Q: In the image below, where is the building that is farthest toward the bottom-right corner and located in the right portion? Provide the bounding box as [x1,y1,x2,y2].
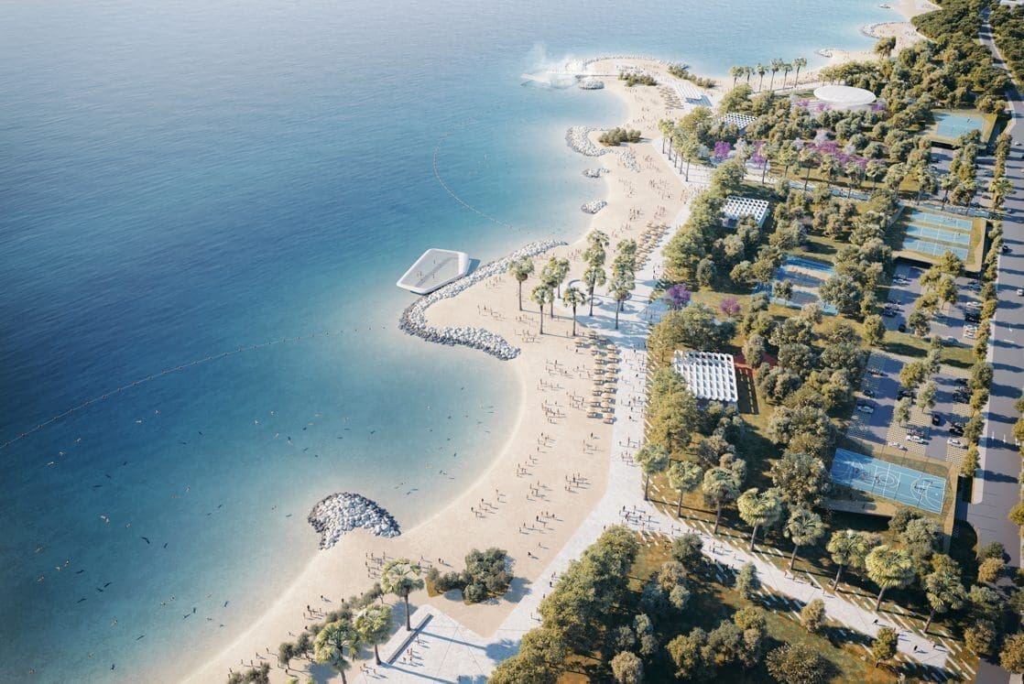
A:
[673,352,738,419]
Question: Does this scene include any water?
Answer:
Yes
